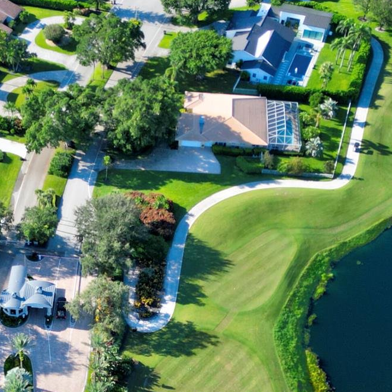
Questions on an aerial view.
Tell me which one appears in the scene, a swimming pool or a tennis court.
swimming pool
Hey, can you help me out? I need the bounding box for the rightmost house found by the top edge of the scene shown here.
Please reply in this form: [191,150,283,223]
[226,4,333,86]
